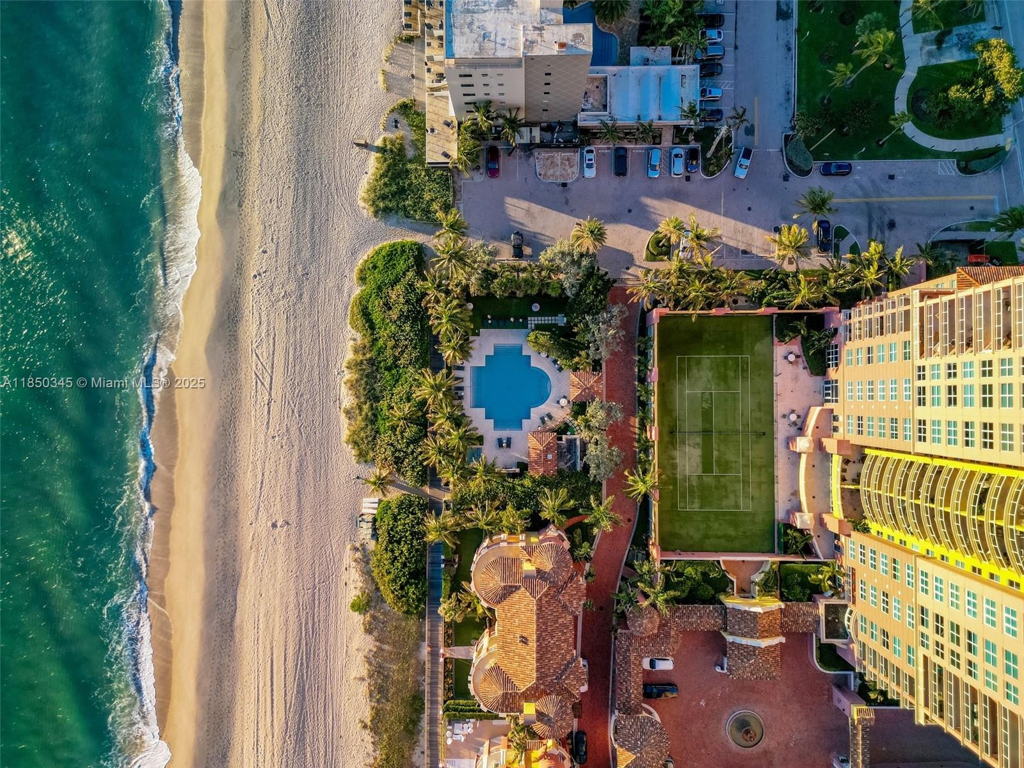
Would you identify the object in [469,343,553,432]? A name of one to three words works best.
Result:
swimming pool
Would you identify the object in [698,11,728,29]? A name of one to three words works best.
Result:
car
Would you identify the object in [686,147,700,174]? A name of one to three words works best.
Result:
car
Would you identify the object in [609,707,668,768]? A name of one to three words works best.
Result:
building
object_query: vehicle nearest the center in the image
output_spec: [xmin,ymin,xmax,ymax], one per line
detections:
[510,228,524,260]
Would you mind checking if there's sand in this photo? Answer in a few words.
Yes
